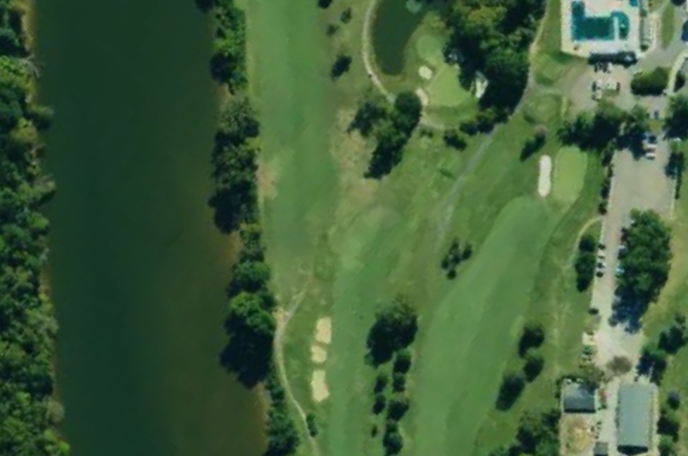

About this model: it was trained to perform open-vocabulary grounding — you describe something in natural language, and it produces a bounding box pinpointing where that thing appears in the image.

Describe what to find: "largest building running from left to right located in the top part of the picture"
[589,53,637,66]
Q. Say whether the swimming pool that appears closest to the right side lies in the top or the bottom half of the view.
top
